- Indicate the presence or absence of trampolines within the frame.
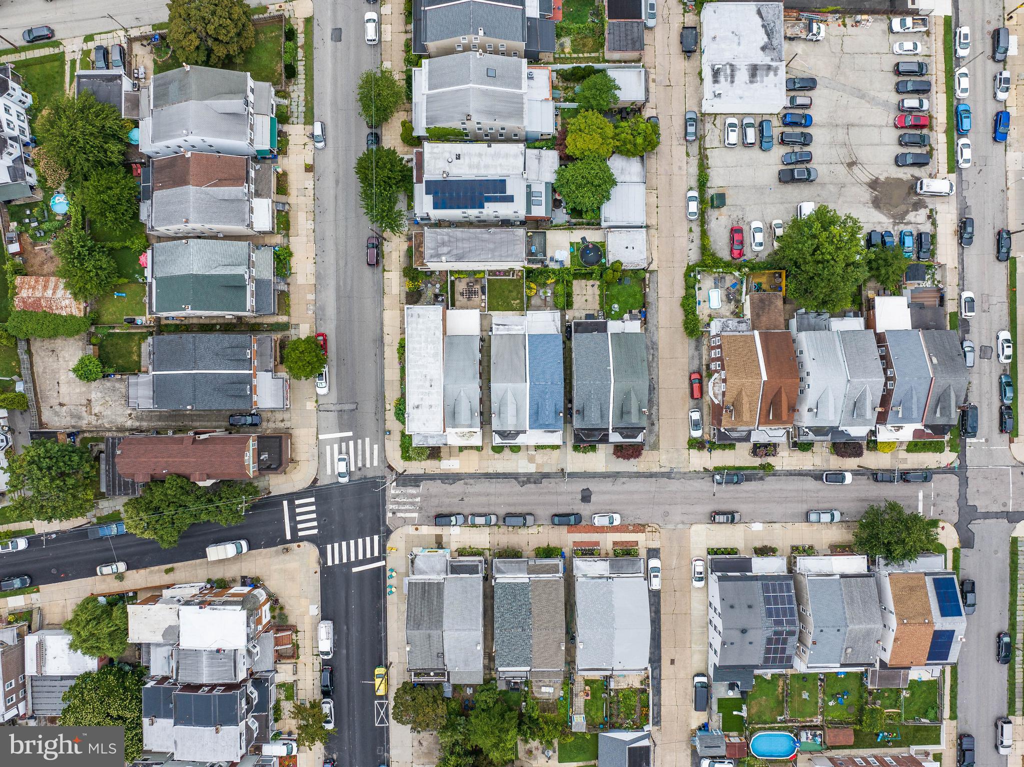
Yes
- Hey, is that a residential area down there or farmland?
residential area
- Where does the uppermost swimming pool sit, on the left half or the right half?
left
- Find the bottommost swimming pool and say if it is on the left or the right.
right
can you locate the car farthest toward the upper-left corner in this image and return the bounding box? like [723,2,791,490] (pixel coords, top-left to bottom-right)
[22,25,55,43]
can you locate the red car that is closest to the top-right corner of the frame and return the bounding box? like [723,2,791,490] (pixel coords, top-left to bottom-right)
[894,112,931,130]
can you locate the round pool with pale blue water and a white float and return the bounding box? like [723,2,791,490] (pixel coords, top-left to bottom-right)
[50,194,71,215]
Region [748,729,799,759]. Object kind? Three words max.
swimming pool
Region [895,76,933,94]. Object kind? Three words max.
car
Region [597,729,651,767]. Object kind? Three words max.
building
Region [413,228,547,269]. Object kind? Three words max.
house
